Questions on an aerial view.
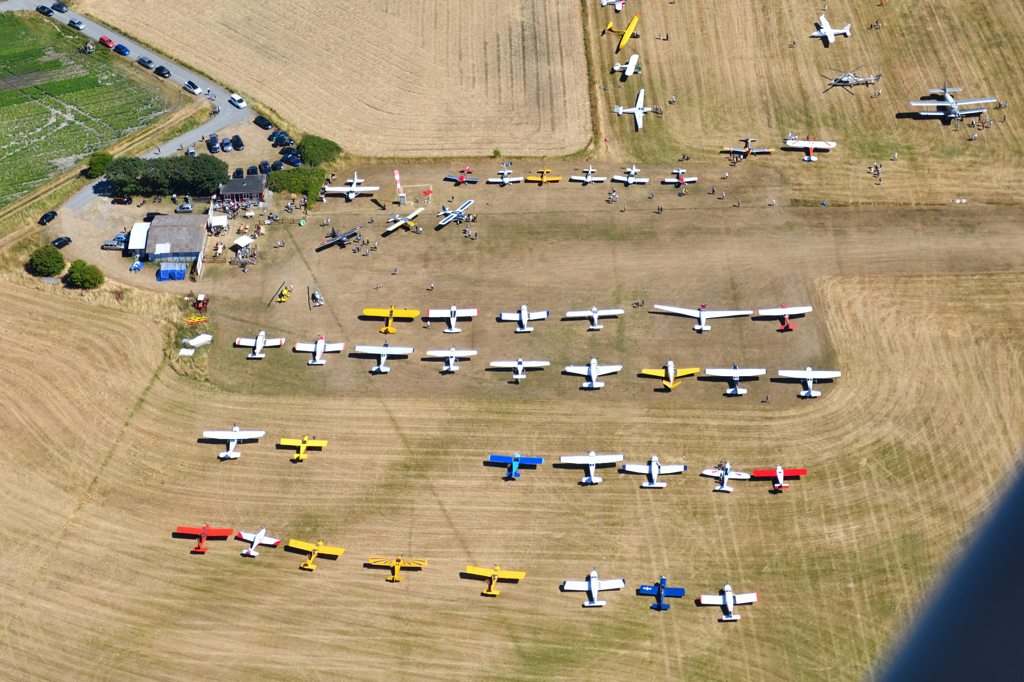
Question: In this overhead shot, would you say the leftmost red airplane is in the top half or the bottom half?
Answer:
bottom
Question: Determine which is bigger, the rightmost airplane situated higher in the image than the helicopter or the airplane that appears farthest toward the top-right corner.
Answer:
the airplane that appears farthest toward the top-right corner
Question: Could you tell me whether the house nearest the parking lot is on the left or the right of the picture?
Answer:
left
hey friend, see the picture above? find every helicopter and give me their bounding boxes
[827,66,885,88]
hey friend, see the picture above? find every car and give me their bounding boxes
[69,17,85,29]
[138,56,155,68]
[114,44,130,54]
[51,2,68,12]
[102,239,127,251]
[38,213,59,225]
[37,5,53,15]
[222,138,232,151]
[46,237,74,247]
[273,159,283,172]
[249,164,258,175]
[155,65,171,77]
[233,135,244,150]
[230,92,246,107]
[99,35,116,47]
[186,146,197,158]
[209,132,220,150]
[144,211,164,221]
[175,203,194,213]
[112,195,133,205]
[282,153,301,166]
[268,131,288,141]
[235,166,244,178]
[274,138,293,148]
[261,161,271,174]
[280,146,299,158]
[185,81,201,93]
[255,115,272,129]
[112,233,130,244]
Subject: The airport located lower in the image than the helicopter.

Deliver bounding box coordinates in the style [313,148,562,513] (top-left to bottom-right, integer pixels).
[40,155,1024,404]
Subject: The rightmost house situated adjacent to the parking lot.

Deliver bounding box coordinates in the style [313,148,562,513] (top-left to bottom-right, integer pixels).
[219,174,266,203]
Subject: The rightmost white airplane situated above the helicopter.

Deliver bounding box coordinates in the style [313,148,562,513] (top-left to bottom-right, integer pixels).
[811,15,851,42]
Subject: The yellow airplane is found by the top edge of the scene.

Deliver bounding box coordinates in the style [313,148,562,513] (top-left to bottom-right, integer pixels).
[609,14,640,50]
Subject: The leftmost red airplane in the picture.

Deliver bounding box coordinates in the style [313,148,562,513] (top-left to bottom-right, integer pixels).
[176,525,233,553]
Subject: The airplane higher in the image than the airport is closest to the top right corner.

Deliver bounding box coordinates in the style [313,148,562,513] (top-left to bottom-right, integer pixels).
[910,84,999,123]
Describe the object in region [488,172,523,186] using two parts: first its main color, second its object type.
white airplane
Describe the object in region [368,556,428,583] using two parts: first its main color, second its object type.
yellow airplane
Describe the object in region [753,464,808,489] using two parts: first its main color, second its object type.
red airplane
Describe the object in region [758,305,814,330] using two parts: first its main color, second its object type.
white airplane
